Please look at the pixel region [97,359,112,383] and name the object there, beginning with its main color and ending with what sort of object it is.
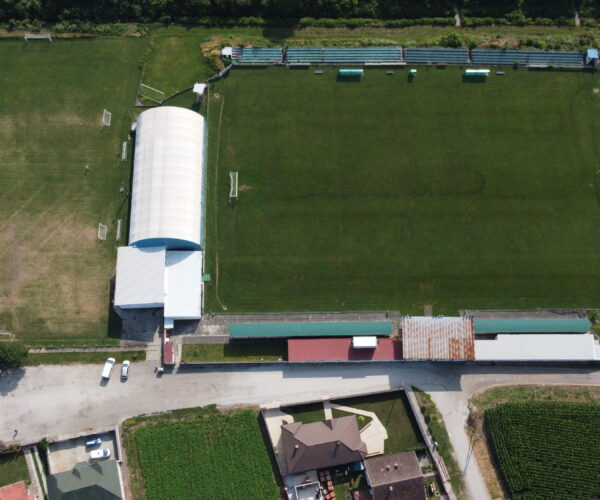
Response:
white vehicle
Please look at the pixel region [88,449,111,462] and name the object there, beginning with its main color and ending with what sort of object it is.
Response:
white vehicle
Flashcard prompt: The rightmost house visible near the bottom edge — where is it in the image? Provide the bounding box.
[366,451,426,500]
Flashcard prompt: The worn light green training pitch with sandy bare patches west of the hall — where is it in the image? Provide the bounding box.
[0,38,147,349]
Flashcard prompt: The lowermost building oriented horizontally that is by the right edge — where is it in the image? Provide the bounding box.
[472,334,594,363]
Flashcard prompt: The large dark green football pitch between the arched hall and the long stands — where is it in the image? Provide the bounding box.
[203,66,600,313]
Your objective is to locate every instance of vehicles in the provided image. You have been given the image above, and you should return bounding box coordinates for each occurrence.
[84,438,103,450]
[88,449,111,462]
[119,362,129,382]
[97,359,112,383]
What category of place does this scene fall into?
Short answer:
sports ground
